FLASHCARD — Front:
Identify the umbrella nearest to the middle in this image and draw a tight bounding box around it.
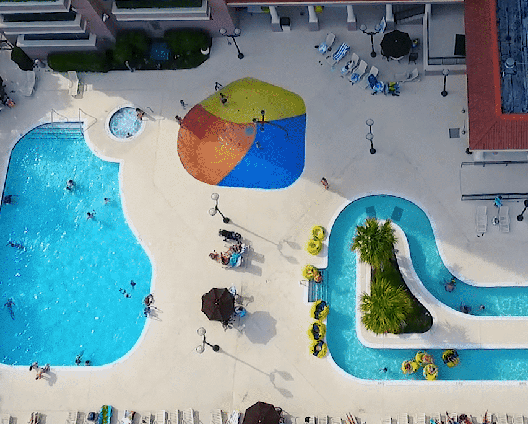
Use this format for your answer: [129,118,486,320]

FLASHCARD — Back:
[204,286,239,322]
